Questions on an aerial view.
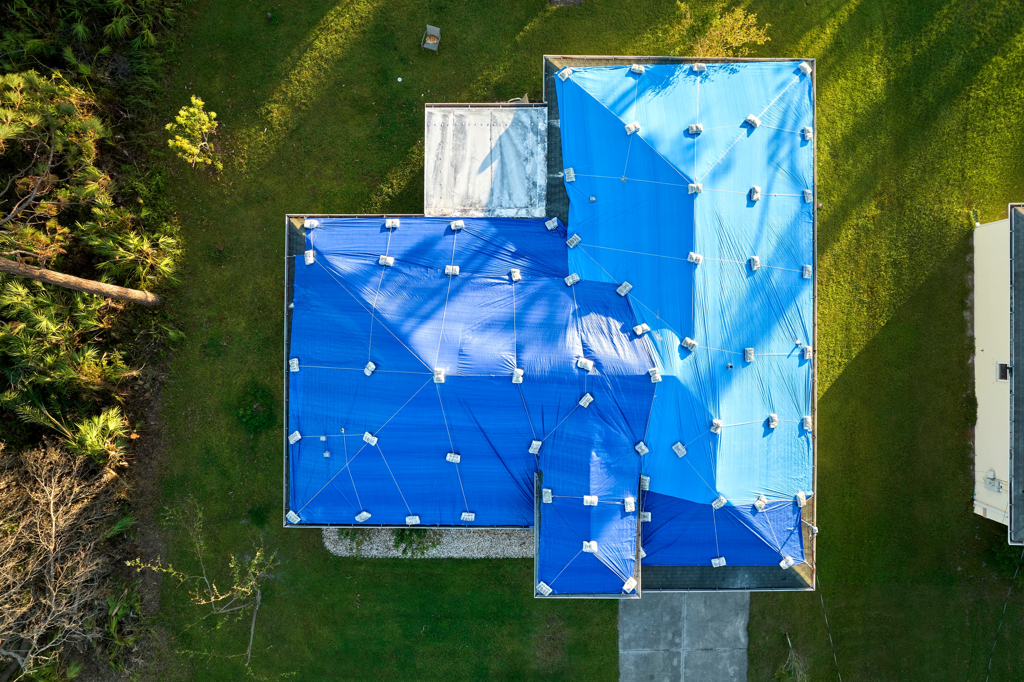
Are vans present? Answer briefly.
No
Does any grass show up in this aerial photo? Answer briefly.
Yes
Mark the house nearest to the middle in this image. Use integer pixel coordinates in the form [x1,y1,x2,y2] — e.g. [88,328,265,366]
[287,56,822,599]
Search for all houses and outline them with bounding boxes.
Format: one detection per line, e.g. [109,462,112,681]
[968,202,1024,546]
[287,56,822,599]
